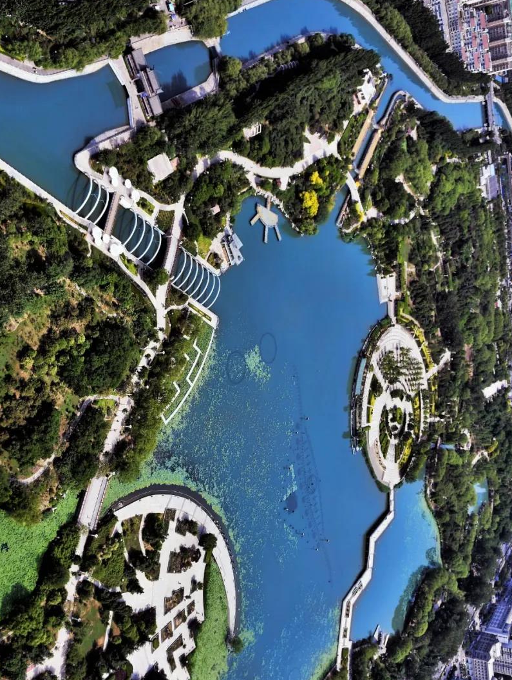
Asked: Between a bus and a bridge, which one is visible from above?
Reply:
bridge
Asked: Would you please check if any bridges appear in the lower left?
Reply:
Yes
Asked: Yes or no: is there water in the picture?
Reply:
Yes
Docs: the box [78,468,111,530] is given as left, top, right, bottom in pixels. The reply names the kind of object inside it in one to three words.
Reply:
bridge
